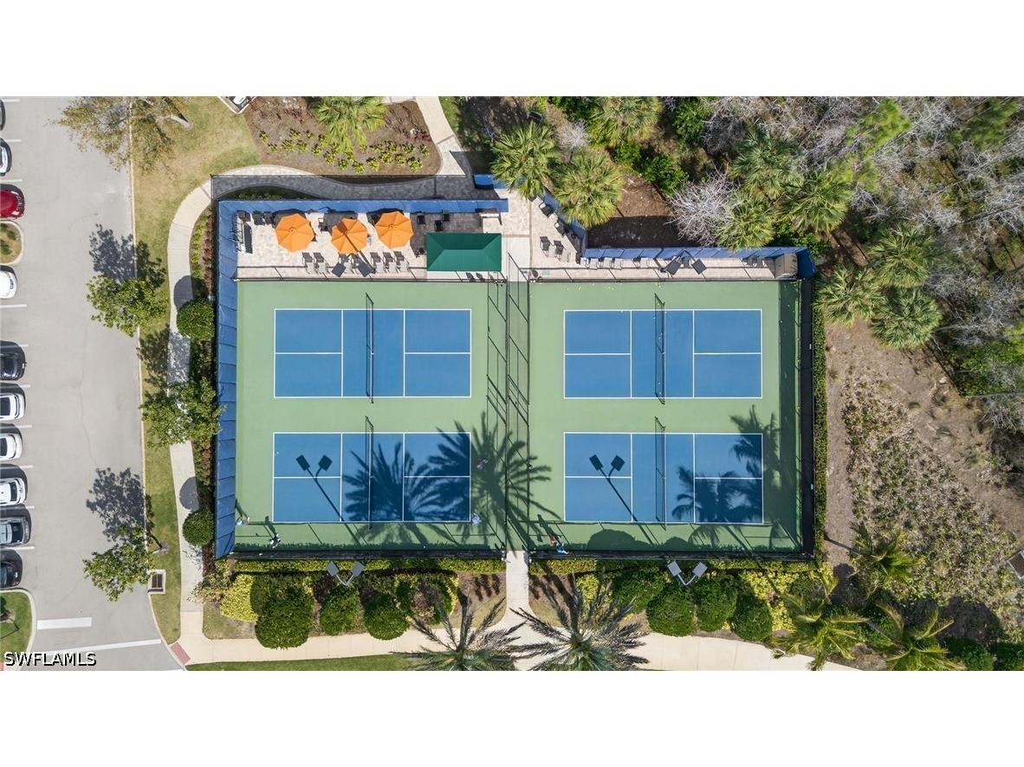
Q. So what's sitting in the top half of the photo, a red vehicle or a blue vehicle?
red vehicle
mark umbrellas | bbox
[331,218,369,256]
[276,214,316,253]
[374,210,414,250]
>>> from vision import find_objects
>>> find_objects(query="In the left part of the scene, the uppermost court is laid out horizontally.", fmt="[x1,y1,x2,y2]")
[274,309,471,398]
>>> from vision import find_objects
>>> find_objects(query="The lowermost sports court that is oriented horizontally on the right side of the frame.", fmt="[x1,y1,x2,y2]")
[564,432,764,524]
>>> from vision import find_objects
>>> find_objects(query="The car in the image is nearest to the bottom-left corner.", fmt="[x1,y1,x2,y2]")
[0,552,25,581]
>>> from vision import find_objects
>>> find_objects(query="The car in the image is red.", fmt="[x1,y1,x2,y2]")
[0,186,27,218]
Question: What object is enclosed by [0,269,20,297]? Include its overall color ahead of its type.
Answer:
white car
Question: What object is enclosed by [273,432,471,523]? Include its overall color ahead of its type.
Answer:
blue sports court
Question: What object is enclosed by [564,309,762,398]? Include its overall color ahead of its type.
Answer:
blue sports court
